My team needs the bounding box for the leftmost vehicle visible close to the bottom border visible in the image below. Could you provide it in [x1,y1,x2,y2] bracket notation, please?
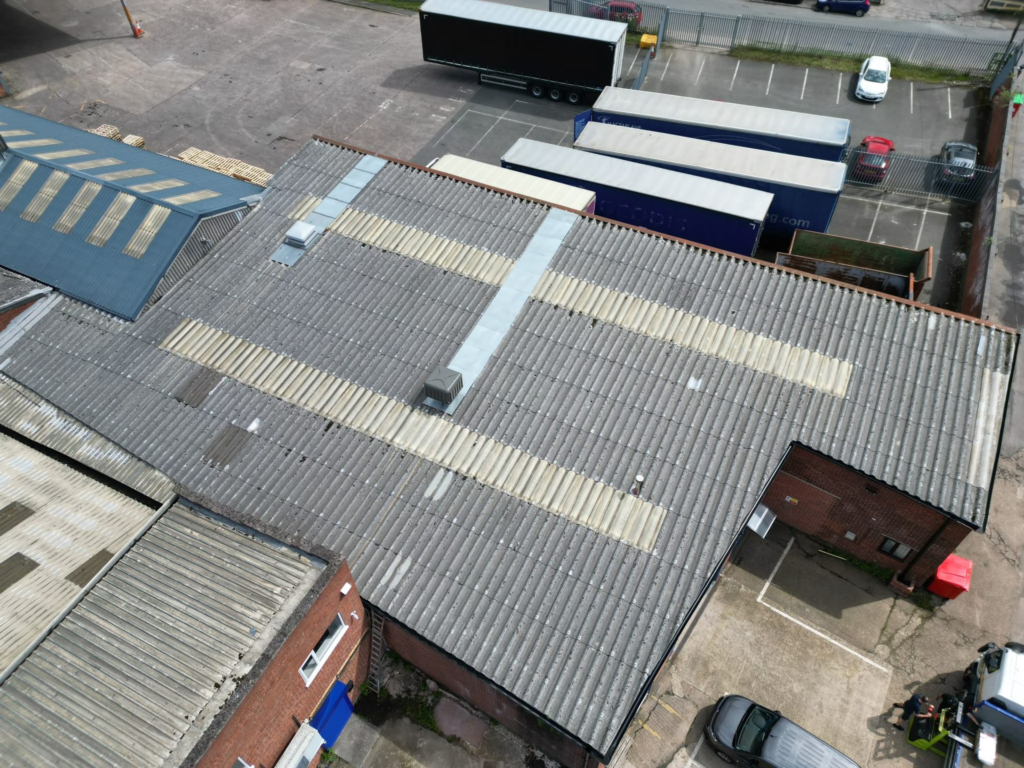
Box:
[694,698,840,768]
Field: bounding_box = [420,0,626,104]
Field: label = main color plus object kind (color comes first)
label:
black trailer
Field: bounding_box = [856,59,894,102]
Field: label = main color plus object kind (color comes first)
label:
white car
